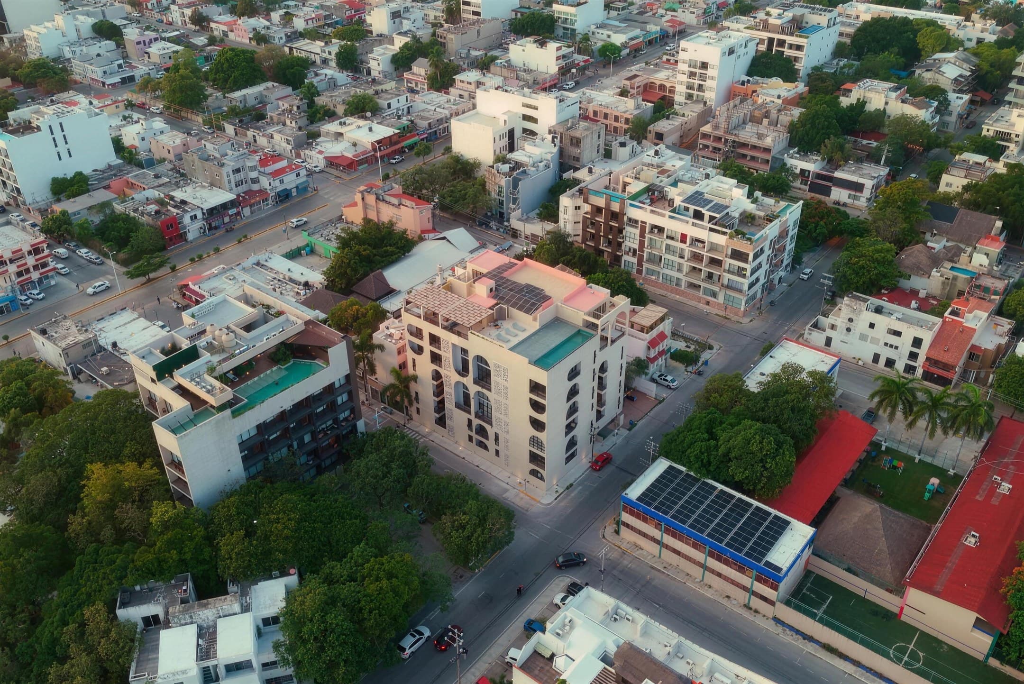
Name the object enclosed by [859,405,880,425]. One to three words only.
vehicle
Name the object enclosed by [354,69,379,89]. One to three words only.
house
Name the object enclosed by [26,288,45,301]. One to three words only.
vehicle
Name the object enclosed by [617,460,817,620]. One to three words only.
building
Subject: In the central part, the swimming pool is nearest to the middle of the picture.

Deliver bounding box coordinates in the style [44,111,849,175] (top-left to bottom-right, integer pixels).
[530,328,594,370]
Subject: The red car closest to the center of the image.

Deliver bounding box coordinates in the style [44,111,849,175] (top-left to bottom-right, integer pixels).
[589,450,614,471]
